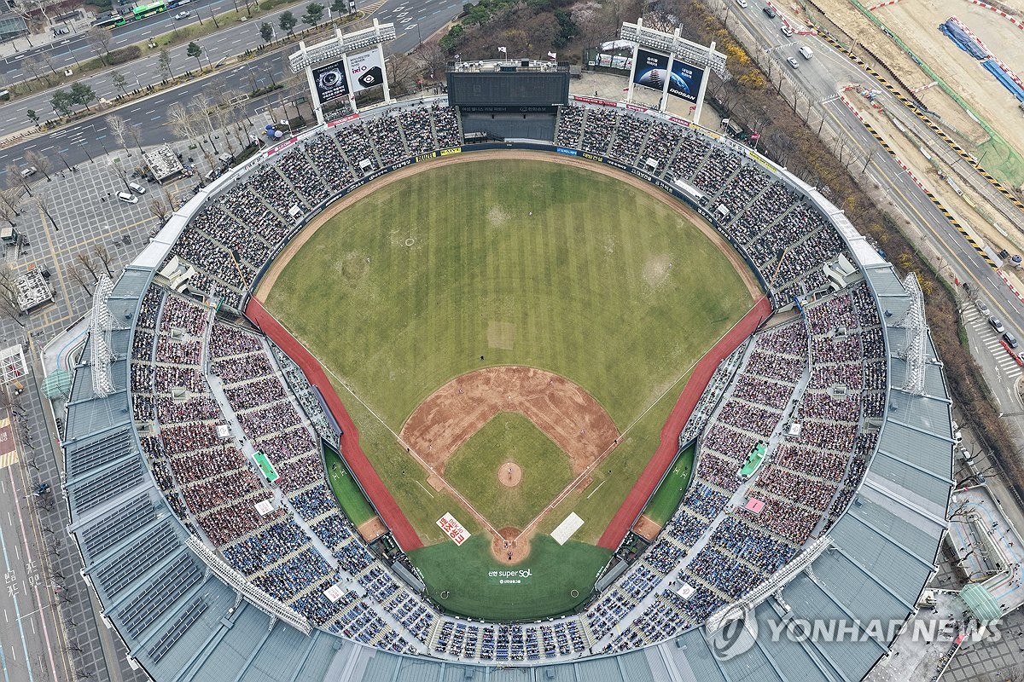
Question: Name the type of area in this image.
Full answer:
The area seen from above is a sports ground.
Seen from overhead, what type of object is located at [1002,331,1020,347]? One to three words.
car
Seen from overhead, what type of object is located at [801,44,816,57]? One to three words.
vehicle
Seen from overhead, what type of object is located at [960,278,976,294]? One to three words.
car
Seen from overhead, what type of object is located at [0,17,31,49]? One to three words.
building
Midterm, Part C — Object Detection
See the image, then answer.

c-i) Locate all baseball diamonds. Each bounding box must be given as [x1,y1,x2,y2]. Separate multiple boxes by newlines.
[247,149,772,621]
